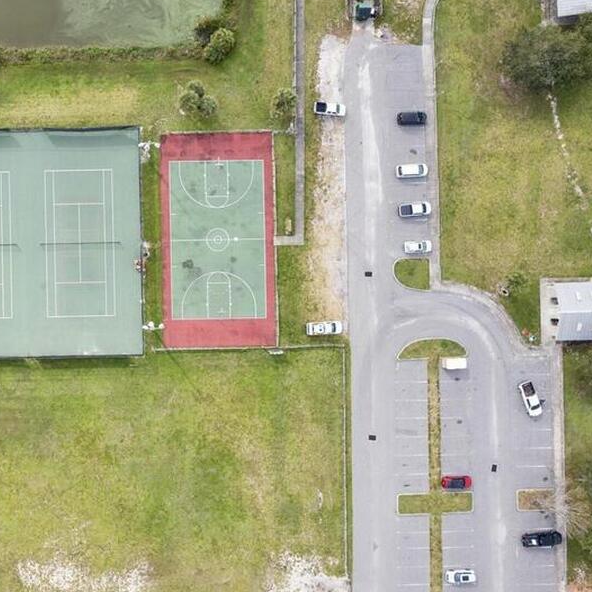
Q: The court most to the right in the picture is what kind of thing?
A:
basketball court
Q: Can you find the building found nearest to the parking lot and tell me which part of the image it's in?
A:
right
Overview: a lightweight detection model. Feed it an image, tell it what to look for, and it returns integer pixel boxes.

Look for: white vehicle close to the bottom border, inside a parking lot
[445,569,475,584]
